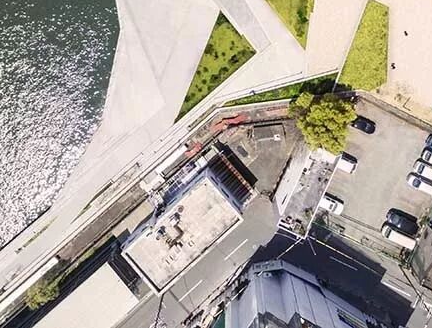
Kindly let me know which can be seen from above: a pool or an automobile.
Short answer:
automobile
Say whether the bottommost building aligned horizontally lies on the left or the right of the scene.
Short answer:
right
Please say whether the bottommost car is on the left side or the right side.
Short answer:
right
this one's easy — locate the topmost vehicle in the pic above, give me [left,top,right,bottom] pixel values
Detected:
[350,116,377,135]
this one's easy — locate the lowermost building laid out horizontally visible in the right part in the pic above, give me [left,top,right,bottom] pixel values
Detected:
[222,266,372,328]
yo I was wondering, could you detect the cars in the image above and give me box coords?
[350,116,377,135]
[338,155,357,173]
[386,210,417,233]
[412,161,432,179]
[420,149,432,163]
[319,196,342,215]
[406,174,432,195]
[382,225,412,247]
